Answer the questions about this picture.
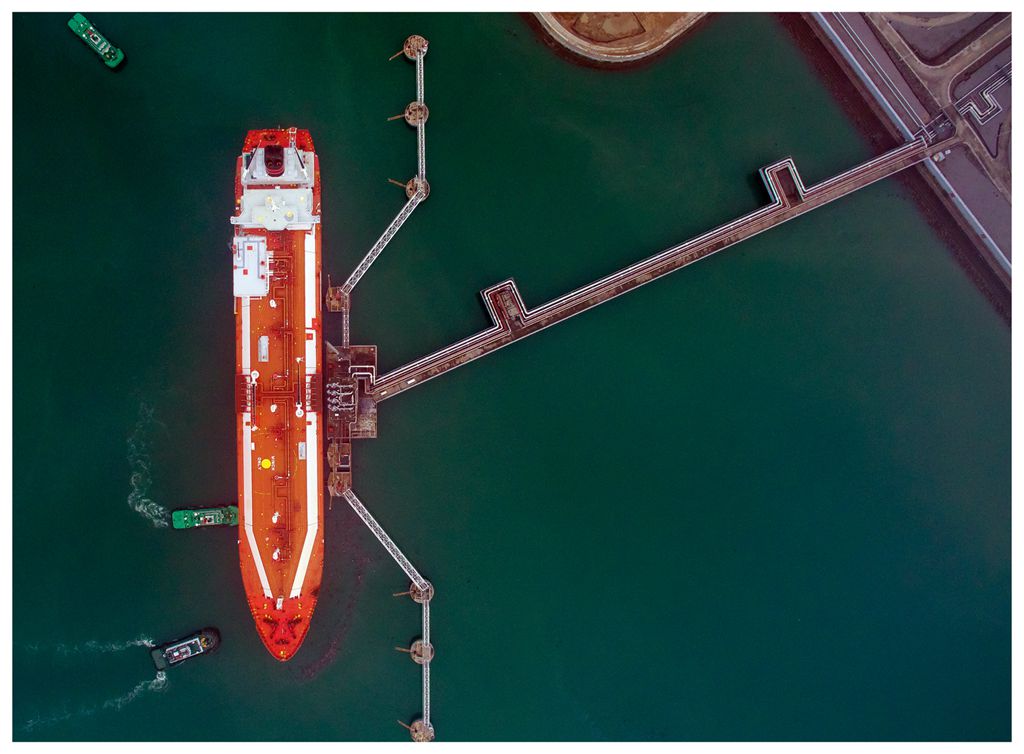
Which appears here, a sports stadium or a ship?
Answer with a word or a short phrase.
ship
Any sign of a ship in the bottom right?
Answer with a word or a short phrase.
No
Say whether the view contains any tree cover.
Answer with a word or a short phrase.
No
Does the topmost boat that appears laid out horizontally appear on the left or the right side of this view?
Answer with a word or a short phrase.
left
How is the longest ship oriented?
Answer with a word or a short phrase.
vertically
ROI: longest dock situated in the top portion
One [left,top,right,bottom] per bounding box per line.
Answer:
[349,133,948,403]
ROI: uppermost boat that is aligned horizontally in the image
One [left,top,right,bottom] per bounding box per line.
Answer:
[172,506,238,529]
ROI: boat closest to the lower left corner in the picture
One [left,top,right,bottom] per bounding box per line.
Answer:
[152,630,220,670]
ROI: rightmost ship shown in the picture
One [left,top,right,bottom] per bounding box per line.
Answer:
[230,127,325,663]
